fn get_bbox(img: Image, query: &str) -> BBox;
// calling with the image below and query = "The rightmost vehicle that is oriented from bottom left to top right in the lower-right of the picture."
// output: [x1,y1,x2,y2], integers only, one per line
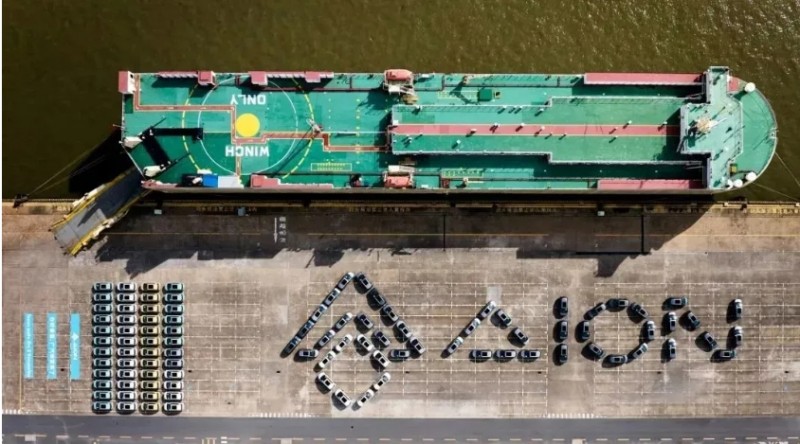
[630,342,648,361]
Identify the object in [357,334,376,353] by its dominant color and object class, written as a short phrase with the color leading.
white car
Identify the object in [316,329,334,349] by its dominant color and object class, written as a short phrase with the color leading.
gray car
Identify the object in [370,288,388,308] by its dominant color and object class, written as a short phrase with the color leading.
black car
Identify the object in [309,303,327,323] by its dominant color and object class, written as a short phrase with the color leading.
gray car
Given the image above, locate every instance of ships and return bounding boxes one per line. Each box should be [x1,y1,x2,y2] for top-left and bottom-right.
[51,68,779,255]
